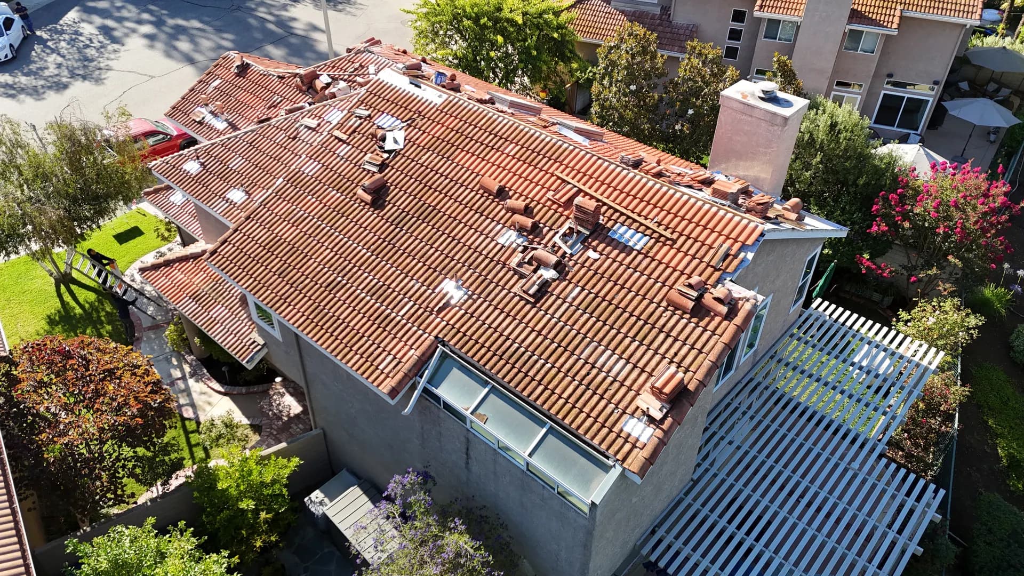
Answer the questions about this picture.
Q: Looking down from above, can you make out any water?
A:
No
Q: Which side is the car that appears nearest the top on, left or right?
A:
left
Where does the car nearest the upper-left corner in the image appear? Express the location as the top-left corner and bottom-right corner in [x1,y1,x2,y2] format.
[0,12,31,59]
